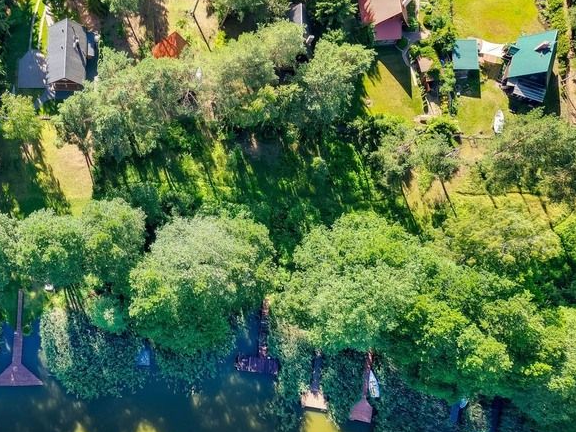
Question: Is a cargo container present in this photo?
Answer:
No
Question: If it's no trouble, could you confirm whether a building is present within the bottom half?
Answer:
No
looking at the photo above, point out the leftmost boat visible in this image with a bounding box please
[369,370,381,399]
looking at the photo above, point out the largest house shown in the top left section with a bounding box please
[46,17,95,85]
